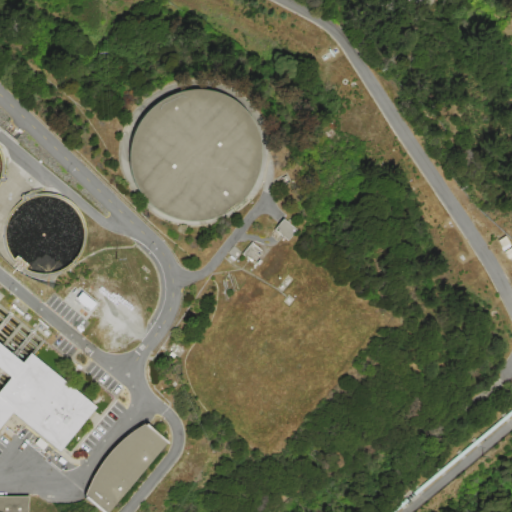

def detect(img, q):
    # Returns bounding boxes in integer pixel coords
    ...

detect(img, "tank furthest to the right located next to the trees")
[130,88,262,220]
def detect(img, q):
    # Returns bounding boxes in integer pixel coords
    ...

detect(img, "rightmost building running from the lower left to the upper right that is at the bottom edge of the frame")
[85,424,170,512]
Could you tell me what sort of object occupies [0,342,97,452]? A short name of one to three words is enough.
building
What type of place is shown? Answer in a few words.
industrial area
